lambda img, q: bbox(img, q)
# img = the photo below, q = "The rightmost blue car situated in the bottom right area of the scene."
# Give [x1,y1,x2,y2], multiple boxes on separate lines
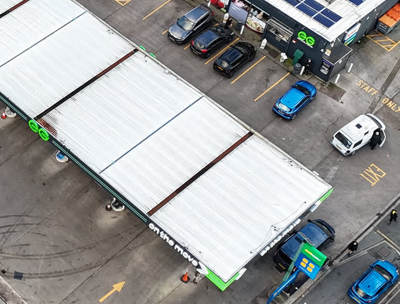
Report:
[348,260,399,304]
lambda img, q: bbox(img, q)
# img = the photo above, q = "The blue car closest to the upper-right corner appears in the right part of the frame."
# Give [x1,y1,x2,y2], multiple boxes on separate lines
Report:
[272,83,316,120]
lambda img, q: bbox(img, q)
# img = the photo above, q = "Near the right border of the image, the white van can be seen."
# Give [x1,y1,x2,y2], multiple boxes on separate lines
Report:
[331,112,391,158]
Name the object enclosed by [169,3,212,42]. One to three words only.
car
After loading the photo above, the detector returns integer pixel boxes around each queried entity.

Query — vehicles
[331,112,391,158]
[192,26,234,58]
[272,220,331,271]
[348,260,399,304]
[213,42,257,77]
[272,83,316,120]
[169,3,212,42]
